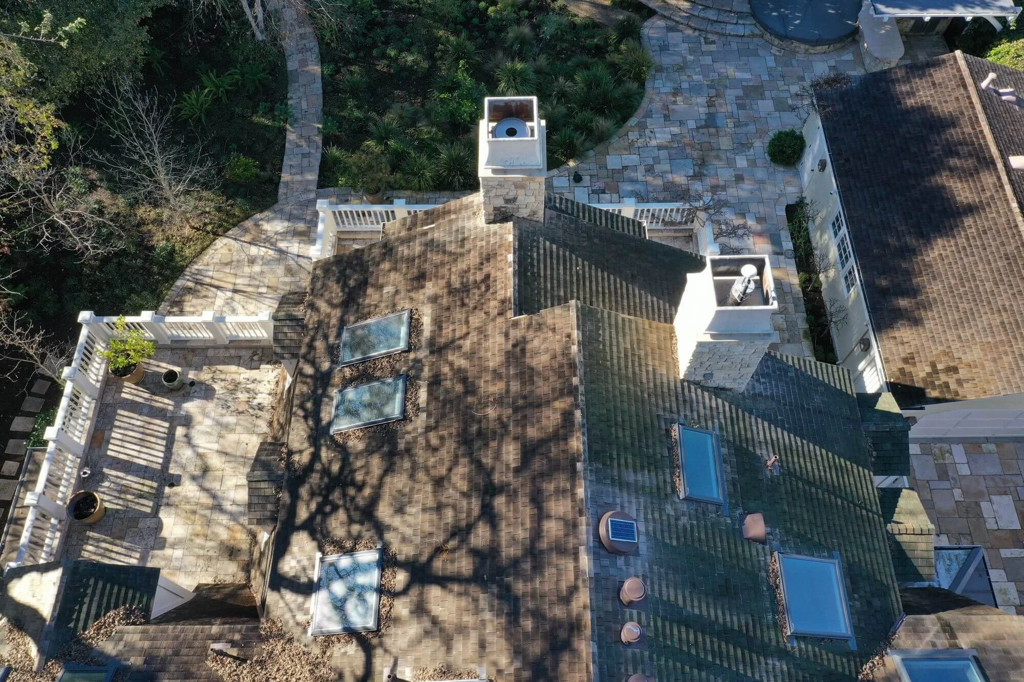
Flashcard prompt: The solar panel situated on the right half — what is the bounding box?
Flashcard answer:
[611,511,640,537]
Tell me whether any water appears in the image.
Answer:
No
